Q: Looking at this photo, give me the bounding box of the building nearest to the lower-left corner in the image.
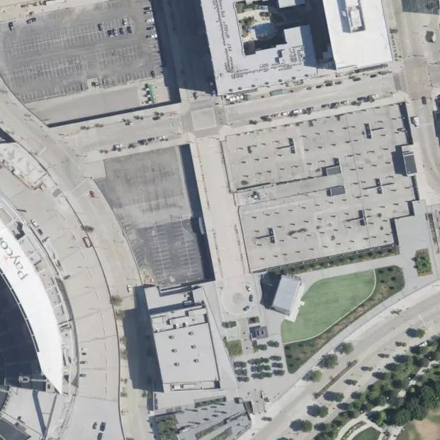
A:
[146,285,221,397]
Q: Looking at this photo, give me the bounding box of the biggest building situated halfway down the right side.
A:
[222,103,432,274]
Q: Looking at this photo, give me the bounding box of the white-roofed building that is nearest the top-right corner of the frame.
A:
[324,0,393,71]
